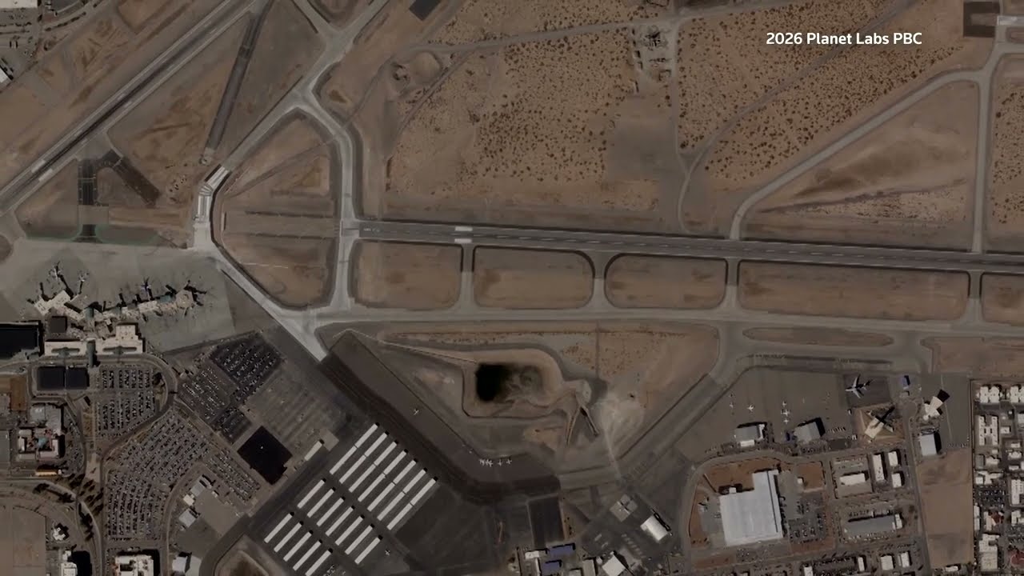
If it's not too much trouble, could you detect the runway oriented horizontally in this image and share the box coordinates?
[359,218,1024,276]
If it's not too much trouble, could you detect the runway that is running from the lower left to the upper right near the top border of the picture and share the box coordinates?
[0,0,261,218]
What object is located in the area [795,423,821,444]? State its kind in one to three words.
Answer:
hangar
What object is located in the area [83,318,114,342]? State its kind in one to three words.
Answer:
building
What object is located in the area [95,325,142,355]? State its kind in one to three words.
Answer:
building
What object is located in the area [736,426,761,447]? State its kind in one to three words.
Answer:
hangar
